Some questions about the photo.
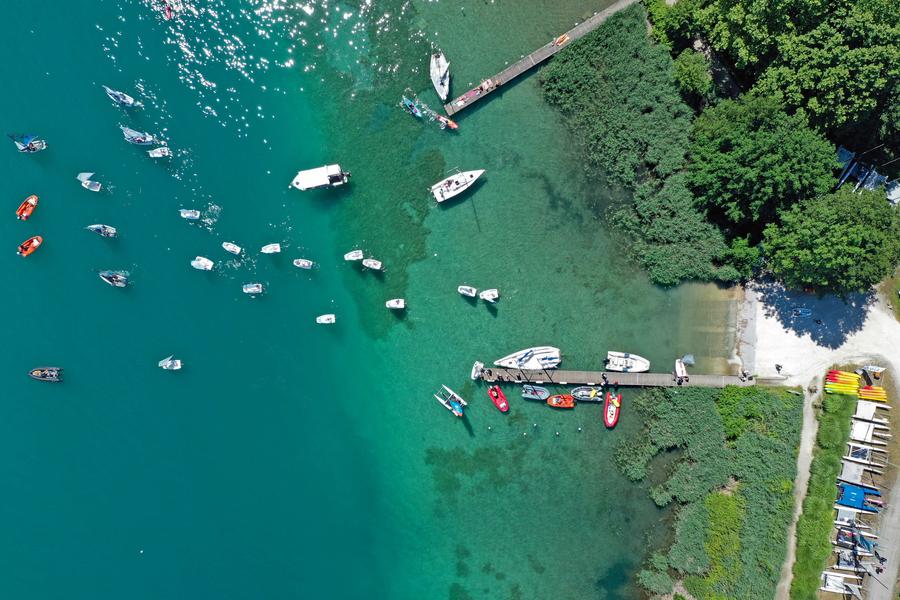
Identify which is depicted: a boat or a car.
boat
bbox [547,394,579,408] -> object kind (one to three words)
boat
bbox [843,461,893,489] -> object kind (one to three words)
boat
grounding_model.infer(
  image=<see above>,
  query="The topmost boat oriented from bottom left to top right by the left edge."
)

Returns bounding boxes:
[12,195,36,222]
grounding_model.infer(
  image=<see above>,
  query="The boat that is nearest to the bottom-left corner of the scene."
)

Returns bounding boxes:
[25,367,65,382]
